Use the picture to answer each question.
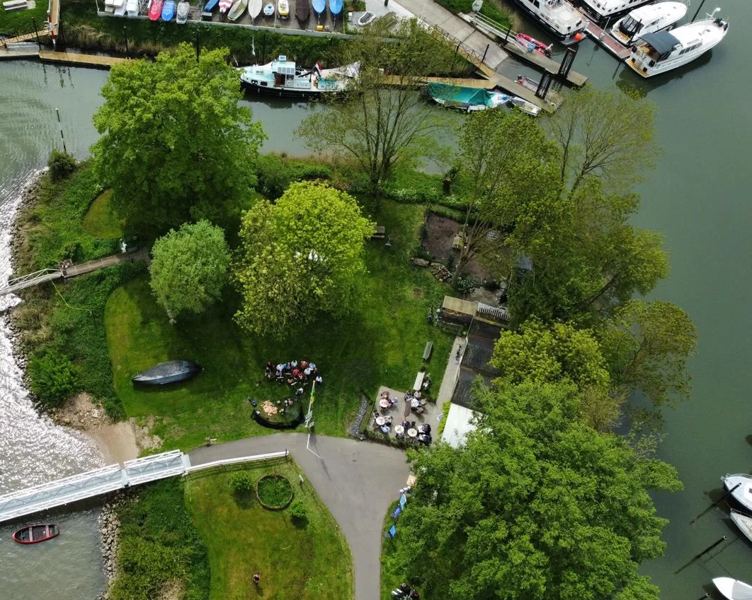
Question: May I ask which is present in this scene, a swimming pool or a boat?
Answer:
boat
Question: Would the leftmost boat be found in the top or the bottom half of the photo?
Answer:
bottom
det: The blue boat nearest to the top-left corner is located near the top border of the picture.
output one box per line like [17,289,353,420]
[161,0,176,27]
